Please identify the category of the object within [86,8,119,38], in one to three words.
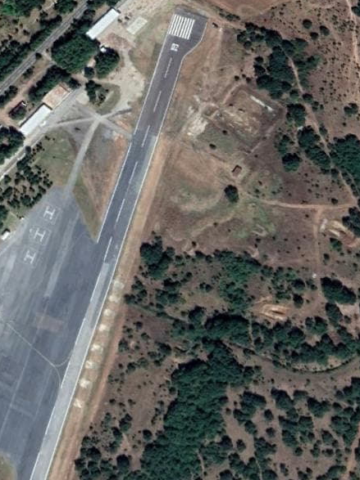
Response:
shed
